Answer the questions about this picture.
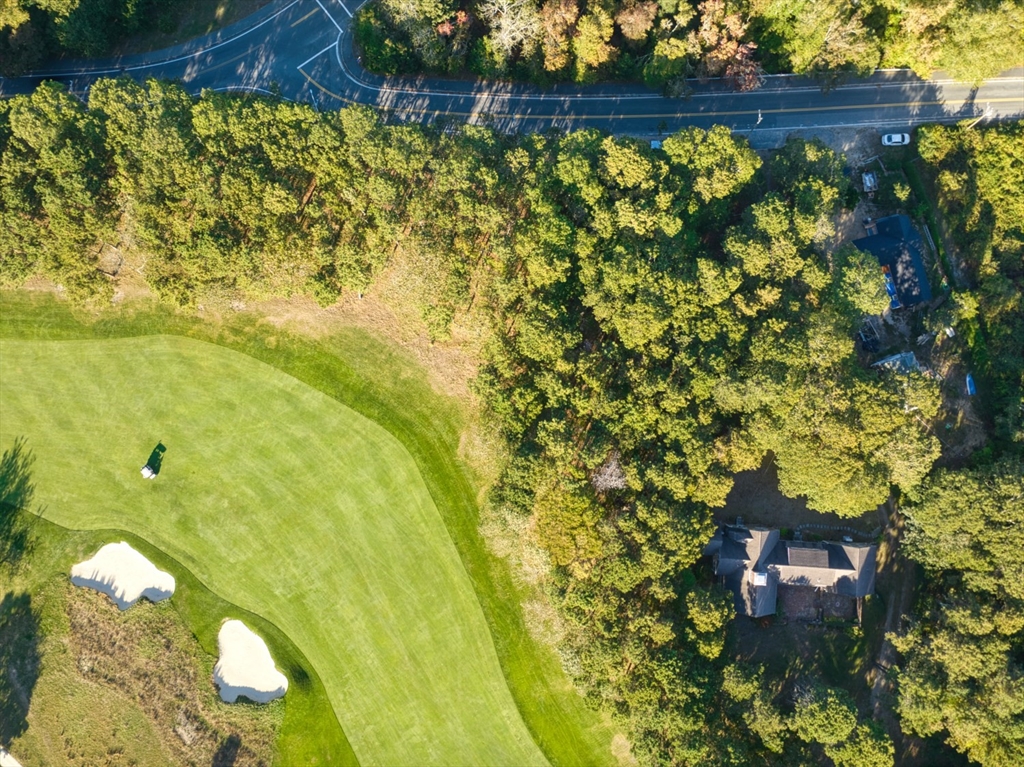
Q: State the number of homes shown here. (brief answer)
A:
two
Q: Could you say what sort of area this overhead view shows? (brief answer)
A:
golf course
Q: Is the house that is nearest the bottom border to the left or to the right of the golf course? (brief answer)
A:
right of it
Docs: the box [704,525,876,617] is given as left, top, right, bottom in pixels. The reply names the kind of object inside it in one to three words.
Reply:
house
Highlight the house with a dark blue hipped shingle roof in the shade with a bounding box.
[847,215,932,306]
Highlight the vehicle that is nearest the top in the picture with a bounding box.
[881,132,911,146]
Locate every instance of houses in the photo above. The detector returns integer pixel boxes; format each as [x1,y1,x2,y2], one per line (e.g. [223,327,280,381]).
[847,215,932,306]
[704,525,876,617]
